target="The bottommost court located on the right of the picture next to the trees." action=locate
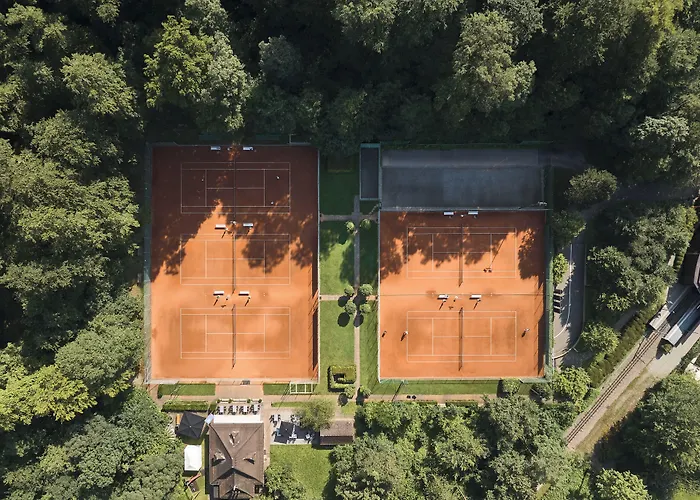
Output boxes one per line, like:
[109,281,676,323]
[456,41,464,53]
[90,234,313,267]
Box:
[379,288,545,378]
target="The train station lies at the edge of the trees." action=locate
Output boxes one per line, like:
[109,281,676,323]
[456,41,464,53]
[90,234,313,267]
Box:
[644,282,700,345]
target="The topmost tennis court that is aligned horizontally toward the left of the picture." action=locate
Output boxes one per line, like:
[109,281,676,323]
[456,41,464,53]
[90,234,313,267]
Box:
[151,146,317,223]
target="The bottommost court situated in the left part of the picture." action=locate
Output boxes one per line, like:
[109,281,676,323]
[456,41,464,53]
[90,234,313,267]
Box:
[151,289,317,379]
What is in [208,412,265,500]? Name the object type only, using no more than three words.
building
